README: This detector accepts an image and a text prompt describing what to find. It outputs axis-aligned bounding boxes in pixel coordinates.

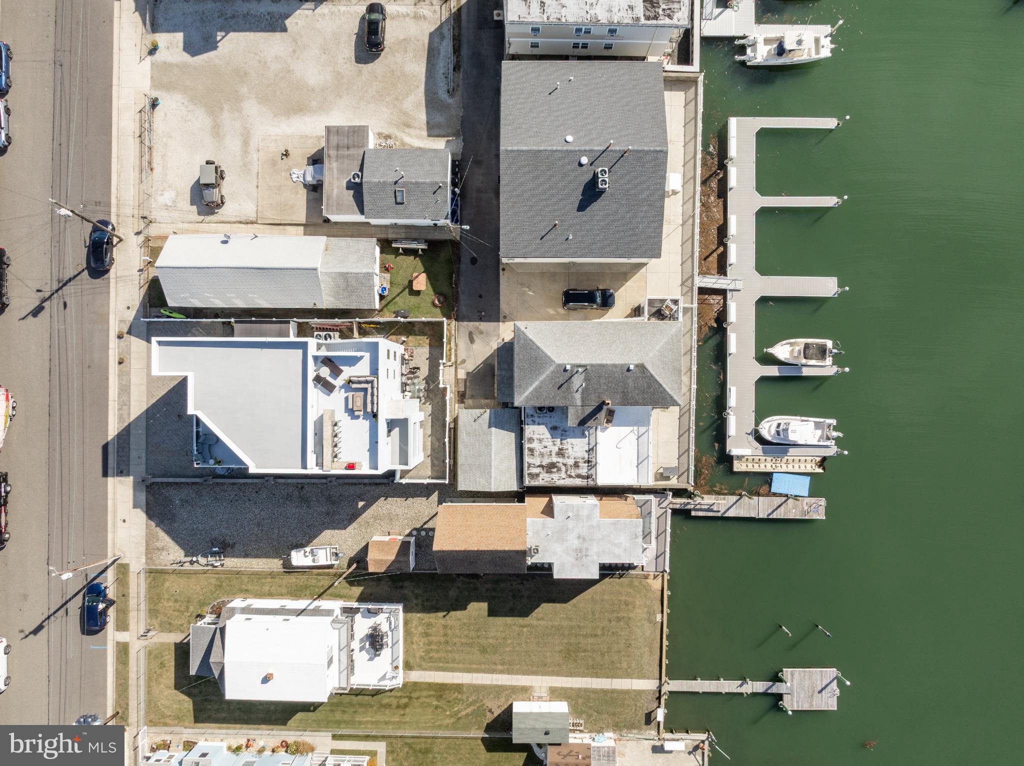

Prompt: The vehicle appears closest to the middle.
[561,286,615,311]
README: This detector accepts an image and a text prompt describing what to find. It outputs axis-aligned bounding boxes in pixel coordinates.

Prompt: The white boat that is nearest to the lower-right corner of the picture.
[757,415,847,445]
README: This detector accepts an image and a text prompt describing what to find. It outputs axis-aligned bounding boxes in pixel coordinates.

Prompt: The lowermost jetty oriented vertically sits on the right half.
[726,117,838,456]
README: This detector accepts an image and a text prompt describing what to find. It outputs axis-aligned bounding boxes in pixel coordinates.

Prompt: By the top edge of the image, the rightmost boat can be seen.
[729,9,837,69]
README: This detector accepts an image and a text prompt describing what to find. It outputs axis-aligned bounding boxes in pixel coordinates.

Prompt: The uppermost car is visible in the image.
[361,0,386,53]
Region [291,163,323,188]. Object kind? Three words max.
car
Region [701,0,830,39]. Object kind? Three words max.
pier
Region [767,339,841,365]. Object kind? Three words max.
boat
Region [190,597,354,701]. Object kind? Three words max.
house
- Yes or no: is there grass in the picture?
Yes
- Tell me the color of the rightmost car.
black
